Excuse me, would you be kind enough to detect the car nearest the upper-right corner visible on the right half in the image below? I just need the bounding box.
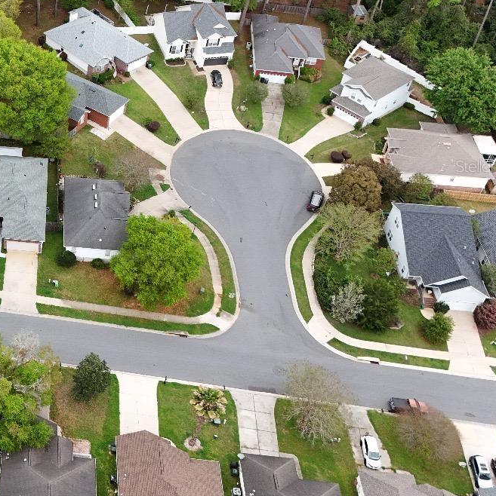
[309,190,325,210]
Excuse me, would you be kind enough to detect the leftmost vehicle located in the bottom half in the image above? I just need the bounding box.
[361,432,384,468]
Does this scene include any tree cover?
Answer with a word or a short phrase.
Yes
